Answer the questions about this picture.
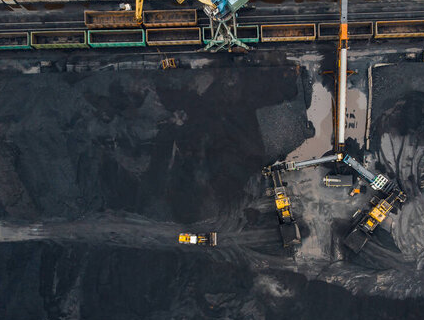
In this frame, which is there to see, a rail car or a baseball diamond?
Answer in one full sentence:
It is a rail car that can be seen here.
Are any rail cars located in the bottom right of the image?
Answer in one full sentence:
No, no rail car appears in the bottom right of the image.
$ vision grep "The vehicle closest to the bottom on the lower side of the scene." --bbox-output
[179,232,218,246]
